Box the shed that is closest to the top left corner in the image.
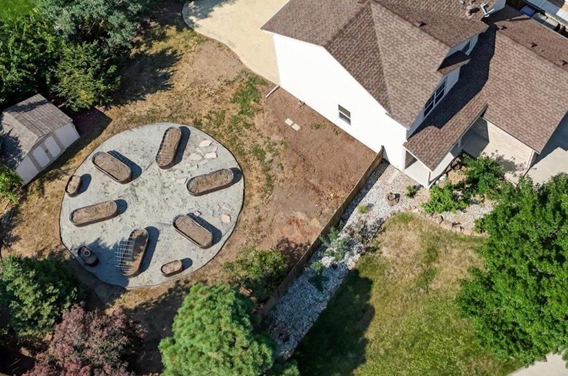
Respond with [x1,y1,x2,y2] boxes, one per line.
[0,88,84,182]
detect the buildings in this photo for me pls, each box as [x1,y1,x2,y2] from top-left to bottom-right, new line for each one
[0,88,84,182]
[259,0,568,189]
